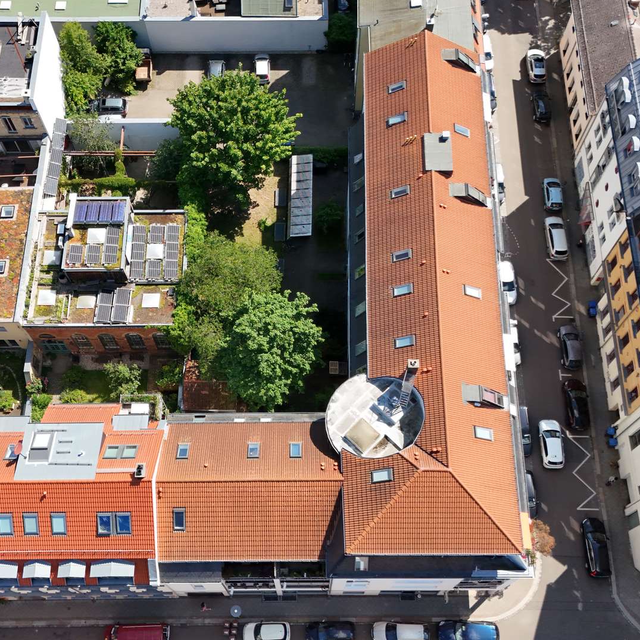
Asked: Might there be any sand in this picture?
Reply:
No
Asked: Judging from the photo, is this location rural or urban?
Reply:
urban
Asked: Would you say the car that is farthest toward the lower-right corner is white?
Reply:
No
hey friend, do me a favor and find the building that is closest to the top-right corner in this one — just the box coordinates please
[551,0,640,149]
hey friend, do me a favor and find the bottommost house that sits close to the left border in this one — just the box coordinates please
[0,392,172,598]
